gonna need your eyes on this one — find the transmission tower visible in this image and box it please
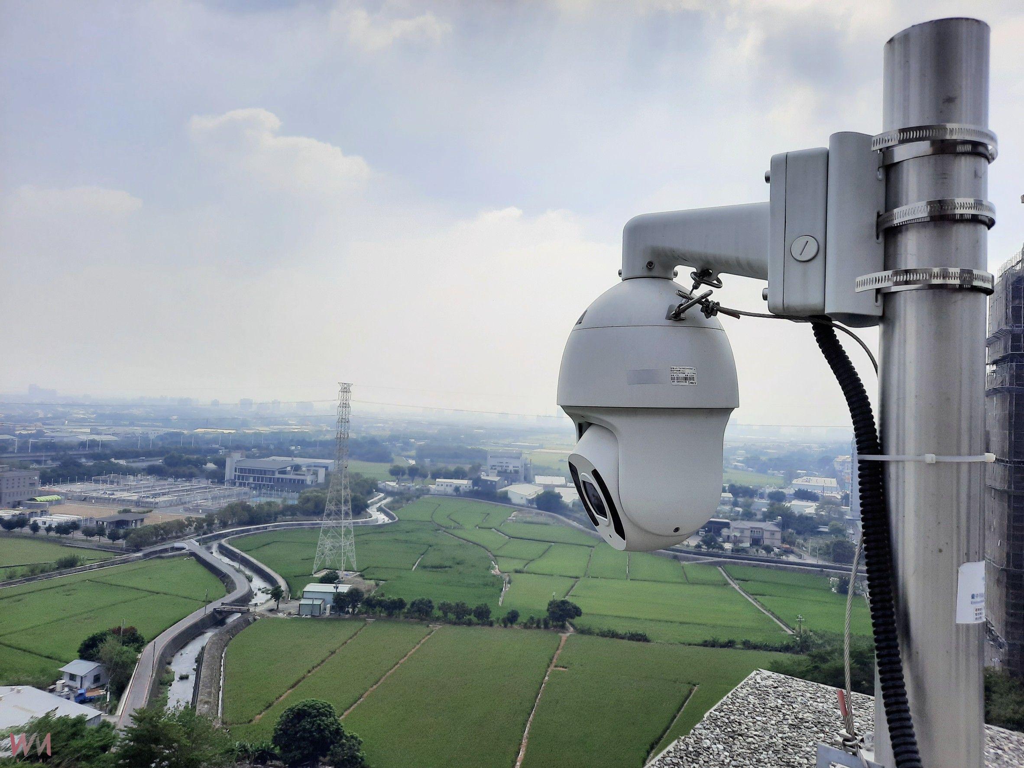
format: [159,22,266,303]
[307,382,360,575]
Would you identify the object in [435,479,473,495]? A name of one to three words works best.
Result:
house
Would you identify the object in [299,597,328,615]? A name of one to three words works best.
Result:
shed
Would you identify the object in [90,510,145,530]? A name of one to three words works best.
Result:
building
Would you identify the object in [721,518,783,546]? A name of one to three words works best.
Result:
house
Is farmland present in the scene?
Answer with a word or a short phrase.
Yes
